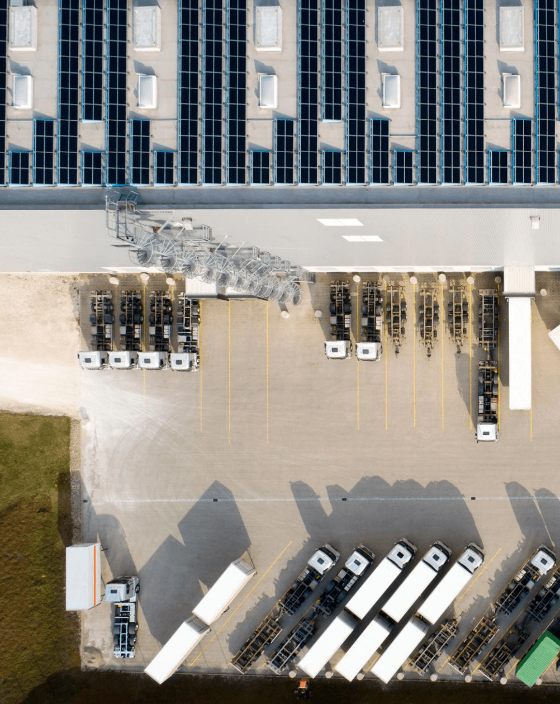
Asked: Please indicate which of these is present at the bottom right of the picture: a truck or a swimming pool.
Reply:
truck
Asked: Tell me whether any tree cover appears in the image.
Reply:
No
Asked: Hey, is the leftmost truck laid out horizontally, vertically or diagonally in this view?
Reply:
vertically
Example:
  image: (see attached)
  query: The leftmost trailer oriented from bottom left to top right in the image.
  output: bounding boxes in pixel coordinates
[230,611,285,675]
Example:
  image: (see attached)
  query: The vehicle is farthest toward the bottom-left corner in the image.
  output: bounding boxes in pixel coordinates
[106,571,141,653]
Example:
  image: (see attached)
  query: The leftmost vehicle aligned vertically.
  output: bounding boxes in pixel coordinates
[80,293,115,374]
